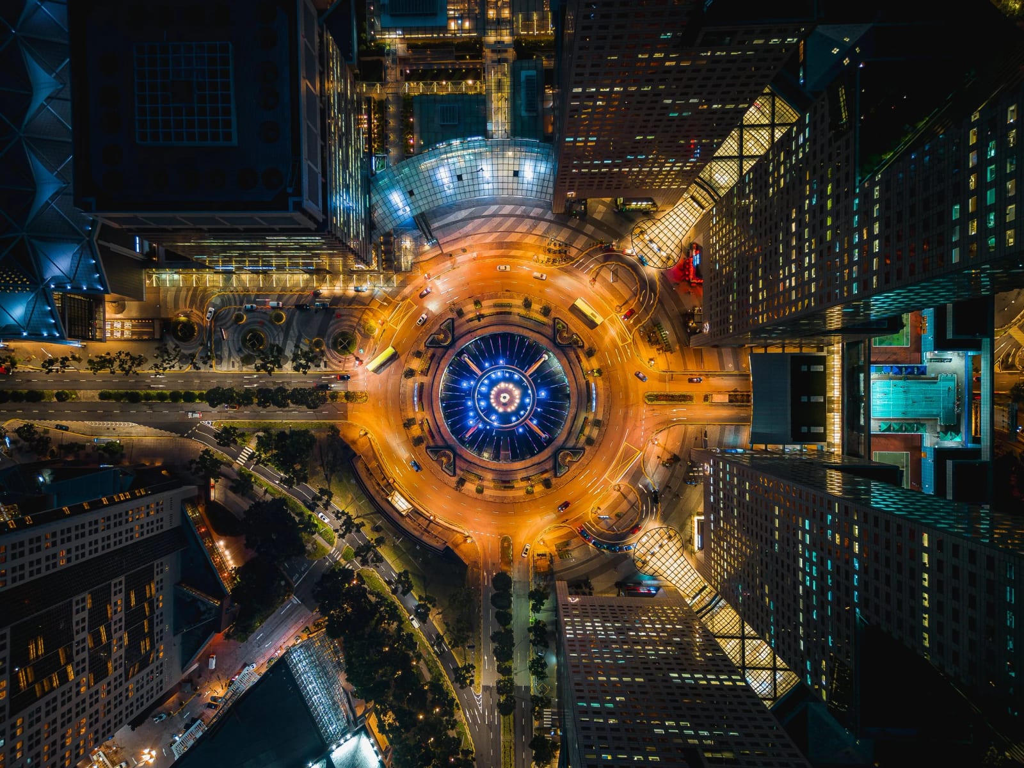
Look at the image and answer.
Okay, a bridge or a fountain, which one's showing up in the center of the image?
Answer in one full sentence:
Visible in the center of the image is a fountain.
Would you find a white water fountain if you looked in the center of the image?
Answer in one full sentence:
No, no white water fountain is visible in the center of the image.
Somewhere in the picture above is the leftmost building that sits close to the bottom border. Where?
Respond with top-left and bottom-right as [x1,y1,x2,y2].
[0,491,184,768]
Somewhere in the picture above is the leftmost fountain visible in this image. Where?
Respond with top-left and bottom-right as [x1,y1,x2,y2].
[428,321,582,474]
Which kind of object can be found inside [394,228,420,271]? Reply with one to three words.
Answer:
building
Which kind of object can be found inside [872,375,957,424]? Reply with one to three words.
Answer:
swimming pool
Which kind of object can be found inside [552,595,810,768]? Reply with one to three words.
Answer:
building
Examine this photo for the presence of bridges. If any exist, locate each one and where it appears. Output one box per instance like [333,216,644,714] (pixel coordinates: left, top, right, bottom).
[484,38,512,75]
